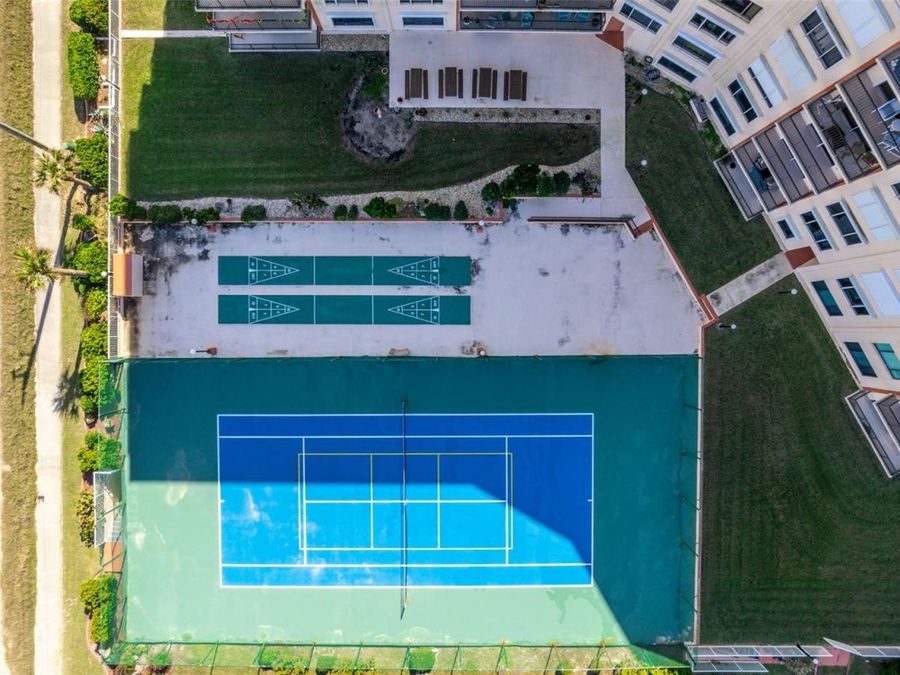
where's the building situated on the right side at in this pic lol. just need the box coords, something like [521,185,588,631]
[190,0,900,487]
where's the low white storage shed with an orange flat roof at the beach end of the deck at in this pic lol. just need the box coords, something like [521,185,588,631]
[105,251,143,297]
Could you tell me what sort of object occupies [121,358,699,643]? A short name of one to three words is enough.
tennis court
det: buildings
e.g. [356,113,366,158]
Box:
[190,0,900,487]
[105,251,143,297]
